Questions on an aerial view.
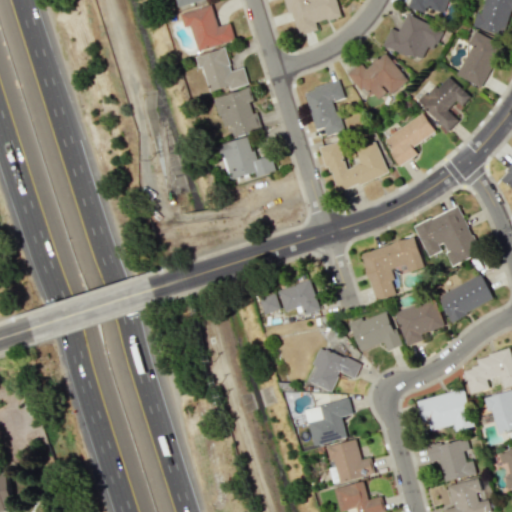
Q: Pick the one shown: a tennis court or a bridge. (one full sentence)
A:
There is a bridge in the scene.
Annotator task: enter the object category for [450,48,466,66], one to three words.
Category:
swimming pool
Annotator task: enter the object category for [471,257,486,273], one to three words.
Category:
camper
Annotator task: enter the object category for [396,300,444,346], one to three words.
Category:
house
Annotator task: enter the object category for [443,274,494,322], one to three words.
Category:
house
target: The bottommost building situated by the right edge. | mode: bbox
[438,478,490,512]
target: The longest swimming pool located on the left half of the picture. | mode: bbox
[177,28,192,48]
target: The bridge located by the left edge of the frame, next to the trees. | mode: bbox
[23,273,154,347]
